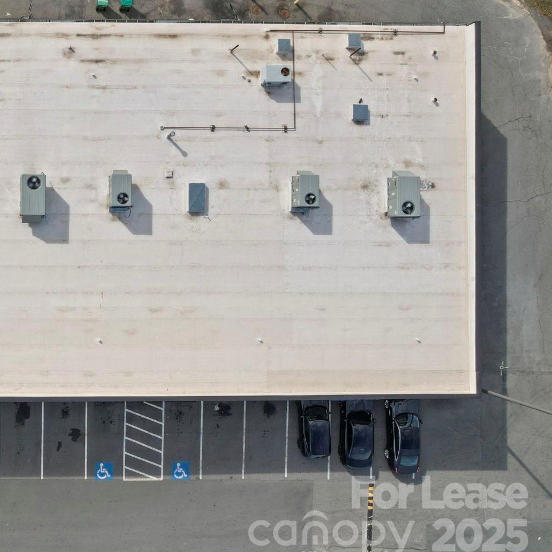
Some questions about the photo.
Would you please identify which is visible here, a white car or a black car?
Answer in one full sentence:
There is a black car in the scene.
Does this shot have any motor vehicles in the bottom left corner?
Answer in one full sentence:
No, no motor vehicle can be made out in the bottom left corner.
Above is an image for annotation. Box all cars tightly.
[384,399,427,475]
[298,399,338,459]
[338,399,382,471]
